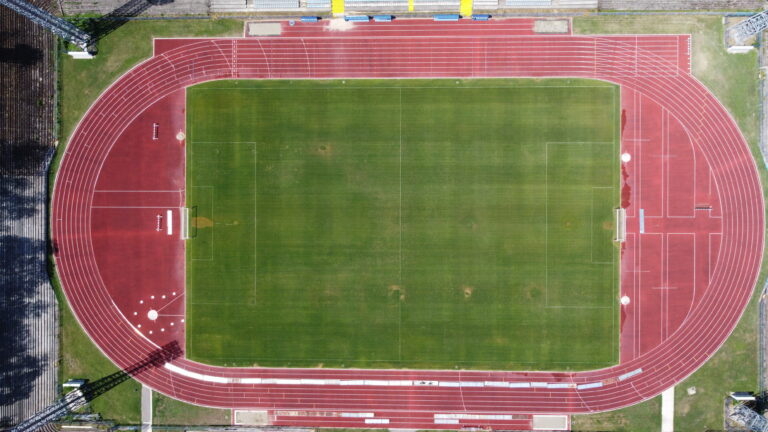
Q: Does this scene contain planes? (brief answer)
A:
No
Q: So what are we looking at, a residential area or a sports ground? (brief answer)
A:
sports ground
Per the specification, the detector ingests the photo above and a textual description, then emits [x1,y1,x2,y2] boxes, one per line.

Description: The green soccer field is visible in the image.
[185,77,621,371]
